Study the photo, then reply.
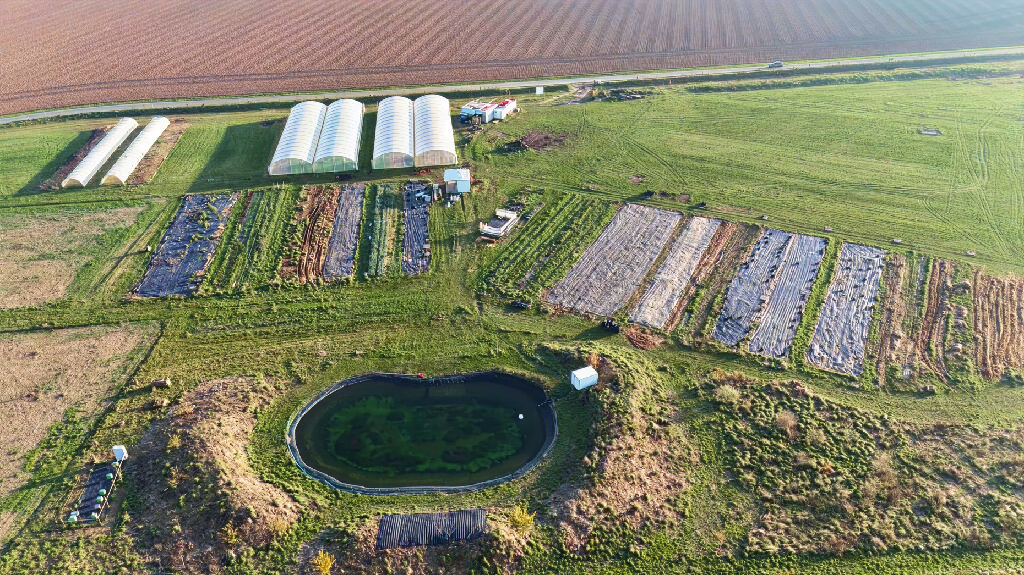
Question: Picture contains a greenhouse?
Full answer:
Yes, the frame does contain a greenhouse.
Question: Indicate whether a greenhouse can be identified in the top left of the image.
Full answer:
Yes, you'll find a greenhouse in the top left of the image.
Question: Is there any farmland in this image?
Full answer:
Yes, there's farmland in this view.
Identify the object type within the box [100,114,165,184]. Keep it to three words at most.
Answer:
greenhouse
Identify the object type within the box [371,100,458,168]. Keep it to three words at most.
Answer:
greenhouse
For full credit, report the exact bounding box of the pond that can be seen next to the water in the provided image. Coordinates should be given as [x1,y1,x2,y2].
[302,383,545,491]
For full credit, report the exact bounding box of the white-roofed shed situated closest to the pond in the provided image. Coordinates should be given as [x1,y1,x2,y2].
[570,362,599,390]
